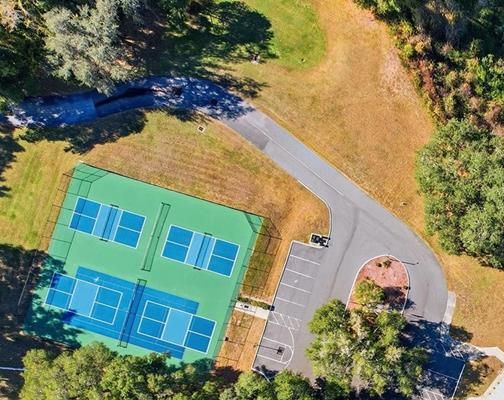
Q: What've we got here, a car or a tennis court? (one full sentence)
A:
Looking from above, you can make out a tennis court.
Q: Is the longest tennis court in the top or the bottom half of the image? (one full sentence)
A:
The longest tennis court sits in the bottom half of the picture.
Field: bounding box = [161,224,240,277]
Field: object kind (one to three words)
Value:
sports court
